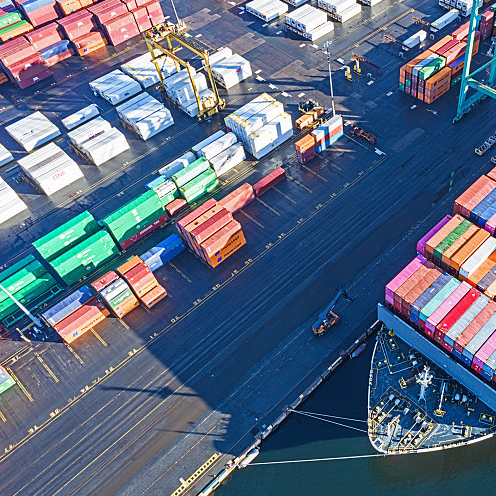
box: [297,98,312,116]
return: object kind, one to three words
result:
work vehicle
